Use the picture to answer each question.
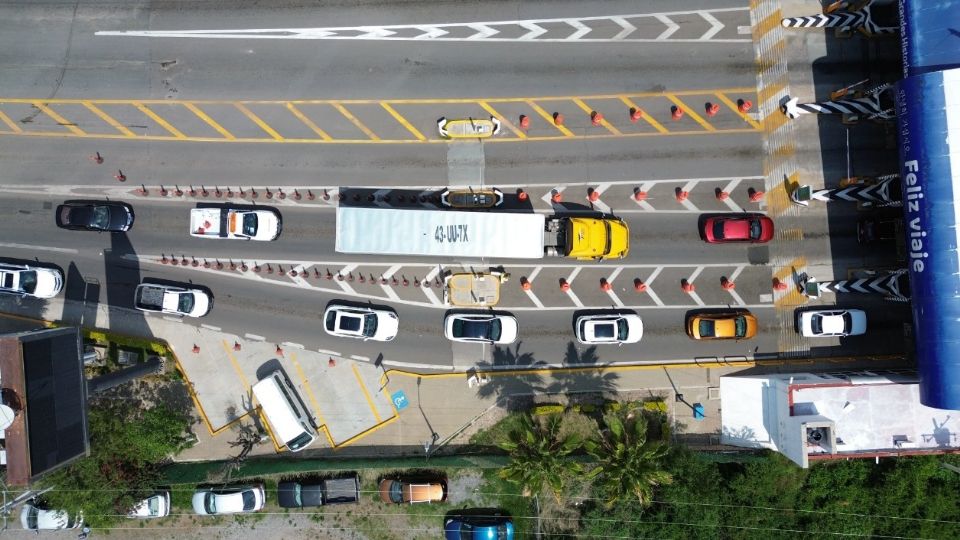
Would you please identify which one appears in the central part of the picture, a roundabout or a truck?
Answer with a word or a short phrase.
truck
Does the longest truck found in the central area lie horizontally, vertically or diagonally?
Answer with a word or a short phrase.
horizontally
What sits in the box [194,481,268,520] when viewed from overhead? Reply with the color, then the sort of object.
white car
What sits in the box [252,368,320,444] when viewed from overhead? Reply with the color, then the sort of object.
white vehicle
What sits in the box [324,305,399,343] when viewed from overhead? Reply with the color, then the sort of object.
white car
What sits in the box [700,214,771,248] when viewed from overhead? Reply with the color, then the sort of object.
red car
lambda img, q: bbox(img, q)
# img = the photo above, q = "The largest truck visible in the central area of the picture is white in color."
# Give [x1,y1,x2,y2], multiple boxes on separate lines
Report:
[337,207,628,265]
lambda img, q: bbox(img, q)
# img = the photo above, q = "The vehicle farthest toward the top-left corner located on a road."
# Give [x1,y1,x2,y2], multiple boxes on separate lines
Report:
[57,200,140,236]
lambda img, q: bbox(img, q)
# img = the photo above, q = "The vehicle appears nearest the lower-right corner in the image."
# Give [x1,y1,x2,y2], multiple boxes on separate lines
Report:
[795,307,863,340]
